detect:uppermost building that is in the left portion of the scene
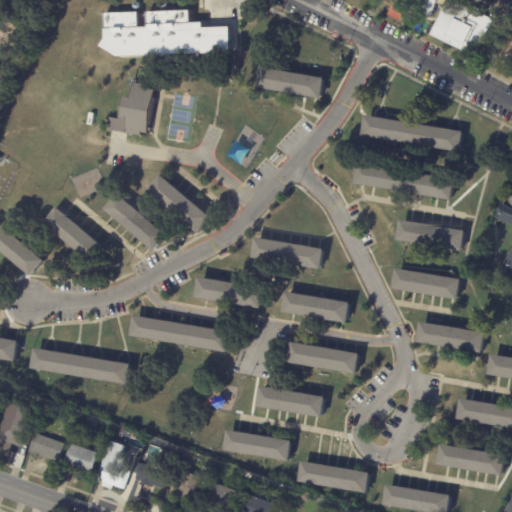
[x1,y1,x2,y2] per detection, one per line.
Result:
[100,10,230,58]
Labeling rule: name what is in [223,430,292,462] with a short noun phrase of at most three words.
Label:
building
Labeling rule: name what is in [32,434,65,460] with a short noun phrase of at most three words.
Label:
house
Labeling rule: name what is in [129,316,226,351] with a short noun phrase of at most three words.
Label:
building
